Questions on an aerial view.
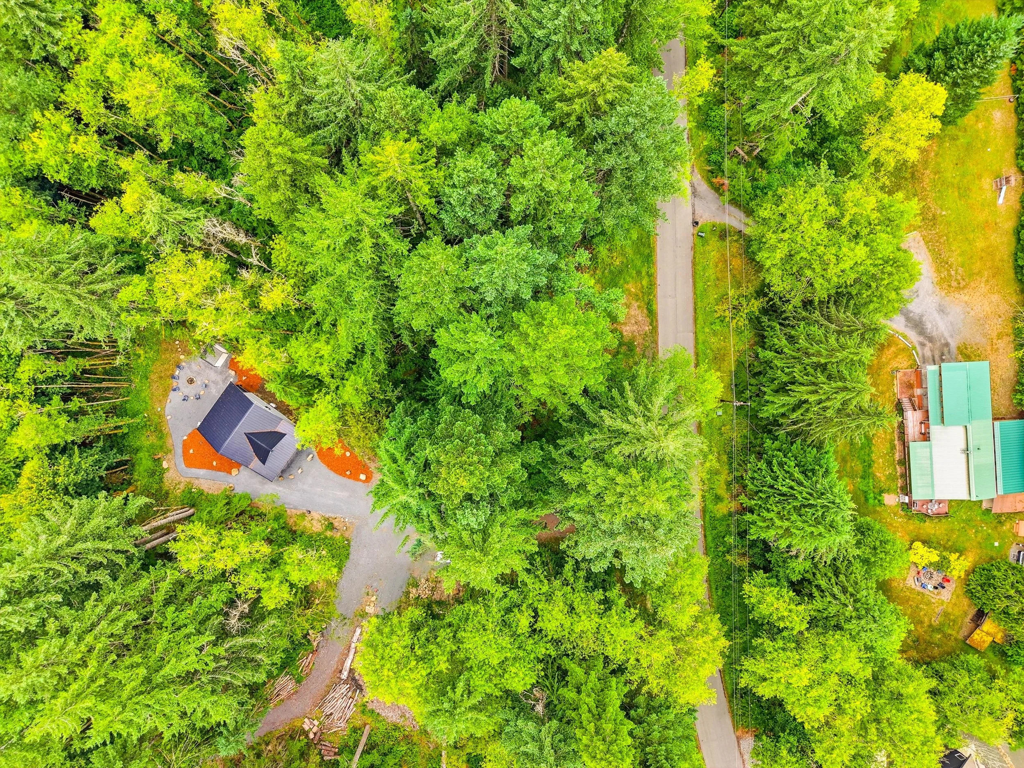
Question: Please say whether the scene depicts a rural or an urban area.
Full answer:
This place is rural.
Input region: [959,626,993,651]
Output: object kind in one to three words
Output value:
shed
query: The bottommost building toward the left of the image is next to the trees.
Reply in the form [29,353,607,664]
[196,375,306,482]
